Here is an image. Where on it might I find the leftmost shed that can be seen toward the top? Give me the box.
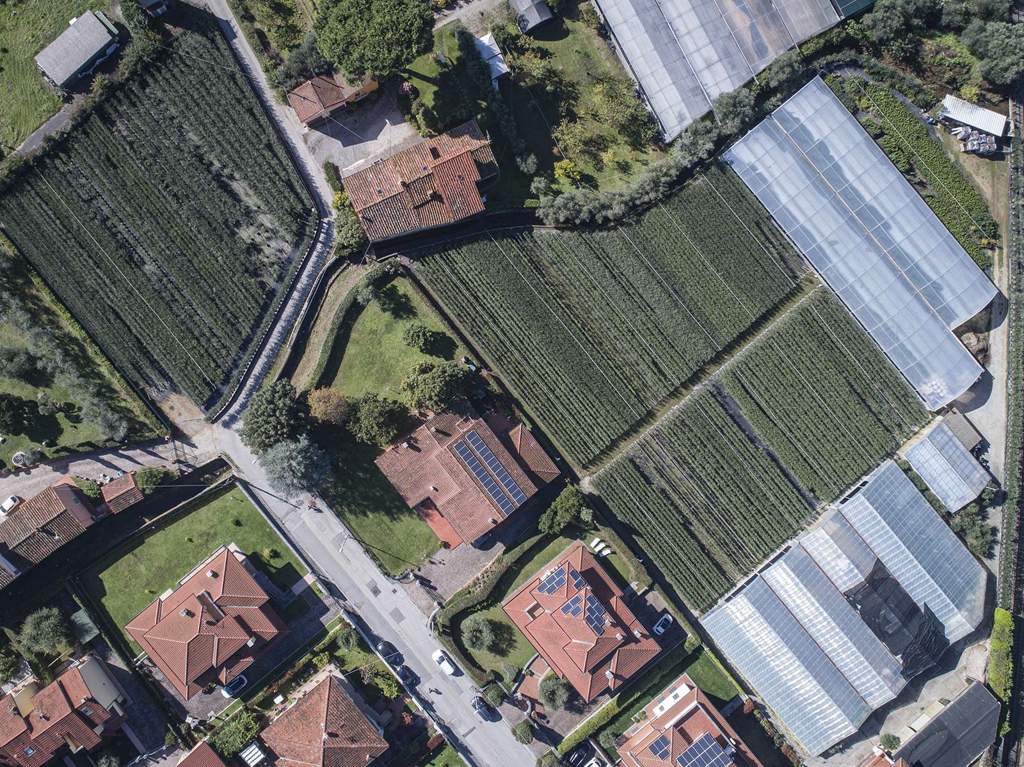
[35,10,122,90]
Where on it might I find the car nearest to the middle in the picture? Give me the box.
[466,530,495,556]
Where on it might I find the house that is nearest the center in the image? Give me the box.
[373,400,561,550]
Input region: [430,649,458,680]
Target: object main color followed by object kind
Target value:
white car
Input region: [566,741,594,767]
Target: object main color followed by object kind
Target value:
black car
